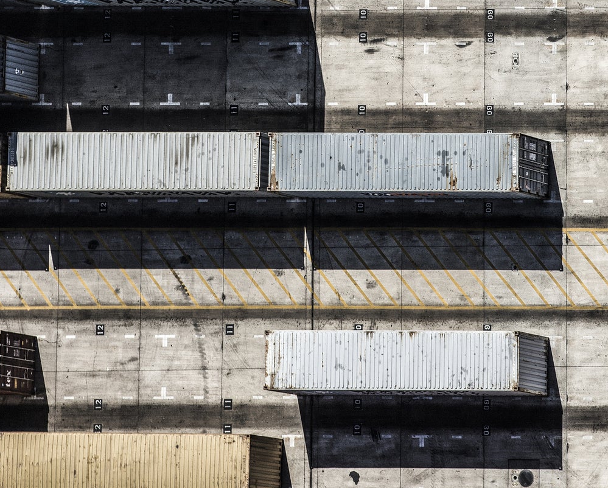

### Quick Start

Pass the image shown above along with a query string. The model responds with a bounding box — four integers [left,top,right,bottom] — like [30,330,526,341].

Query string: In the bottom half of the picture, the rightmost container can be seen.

[262,329,548,395]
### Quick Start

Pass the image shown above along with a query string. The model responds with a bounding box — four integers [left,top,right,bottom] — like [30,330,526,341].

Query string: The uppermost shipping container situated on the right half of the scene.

[267,133,548,199]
